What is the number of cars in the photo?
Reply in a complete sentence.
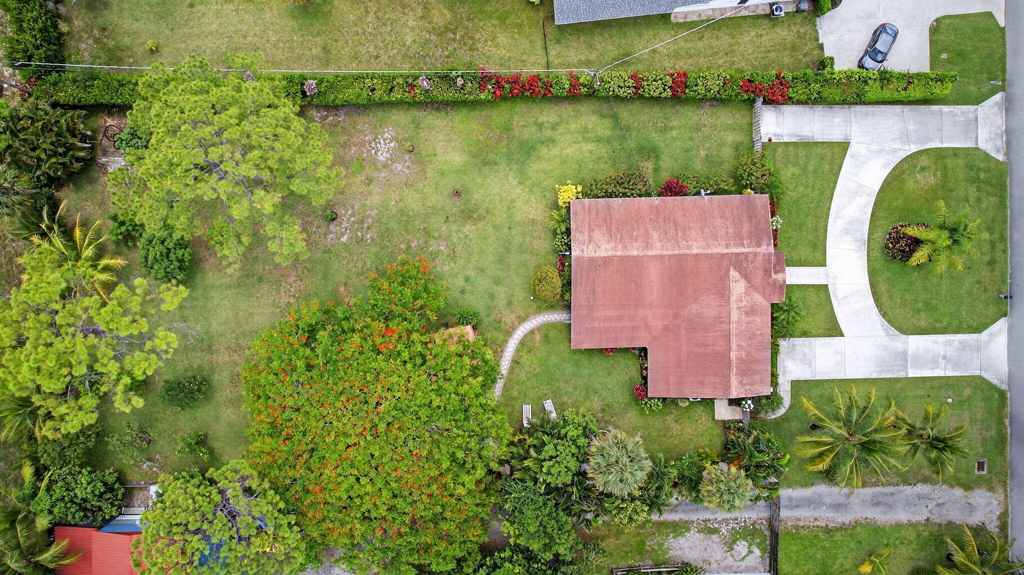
I count 1 car.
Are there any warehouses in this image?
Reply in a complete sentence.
No, the frame has no warehouse in it.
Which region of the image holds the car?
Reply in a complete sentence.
The car appears toward the top right of the photo.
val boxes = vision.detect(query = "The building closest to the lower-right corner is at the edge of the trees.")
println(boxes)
[559,189,794,398]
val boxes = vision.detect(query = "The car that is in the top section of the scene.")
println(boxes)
[856,23,899,79]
